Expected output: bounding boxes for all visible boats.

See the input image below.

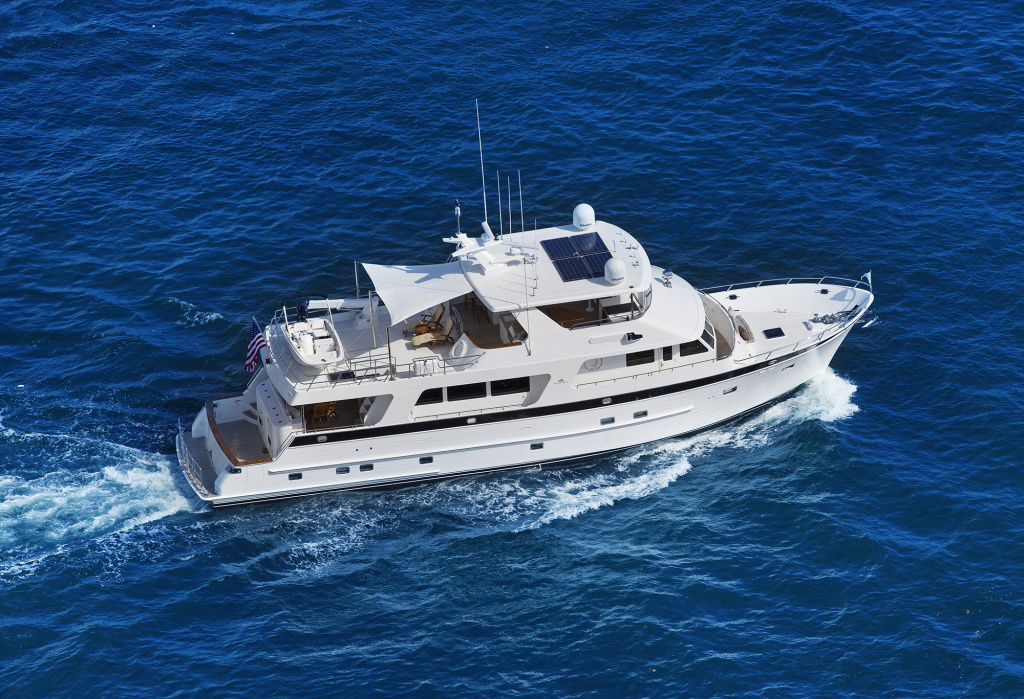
[281,289,343,382]
[177,99,882,510]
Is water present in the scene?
Yes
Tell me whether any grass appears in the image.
No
